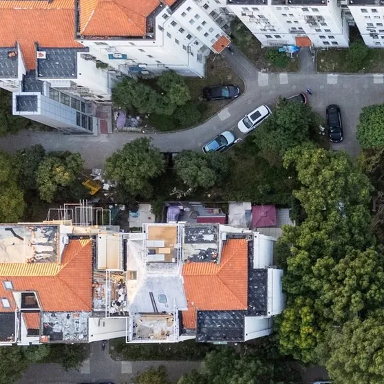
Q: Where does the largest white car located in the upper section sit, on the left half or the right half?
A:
right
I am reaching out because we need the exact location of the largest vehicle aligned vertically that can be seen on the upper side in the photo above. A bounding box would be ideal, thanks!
[326,104,343,142]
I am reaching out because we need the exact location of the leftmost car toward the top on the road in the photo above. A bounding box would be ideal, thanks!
[204,130,234,153]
